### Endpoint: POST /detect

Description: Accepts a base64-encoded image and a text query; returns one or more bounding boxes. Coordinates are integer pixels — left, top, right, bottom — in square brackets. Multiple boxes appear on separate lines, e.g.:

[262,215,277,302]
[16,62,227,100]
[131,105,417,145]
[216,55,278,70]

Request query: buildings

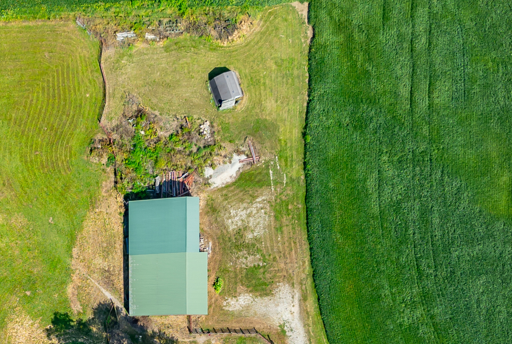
[208,68,244,117]
[129,197,207,315]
